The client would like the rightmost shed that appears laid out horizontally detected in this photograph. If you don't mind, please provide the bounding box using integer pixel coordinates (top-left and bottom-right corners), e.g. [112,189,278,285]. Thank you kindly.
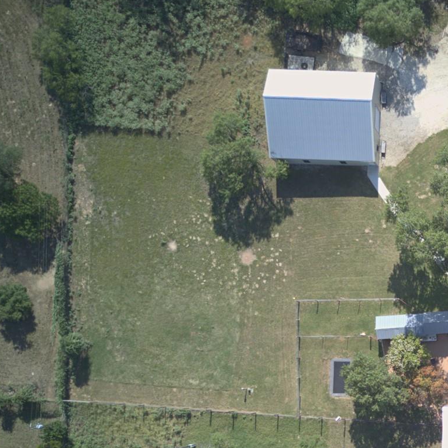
[375,311,448,339]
